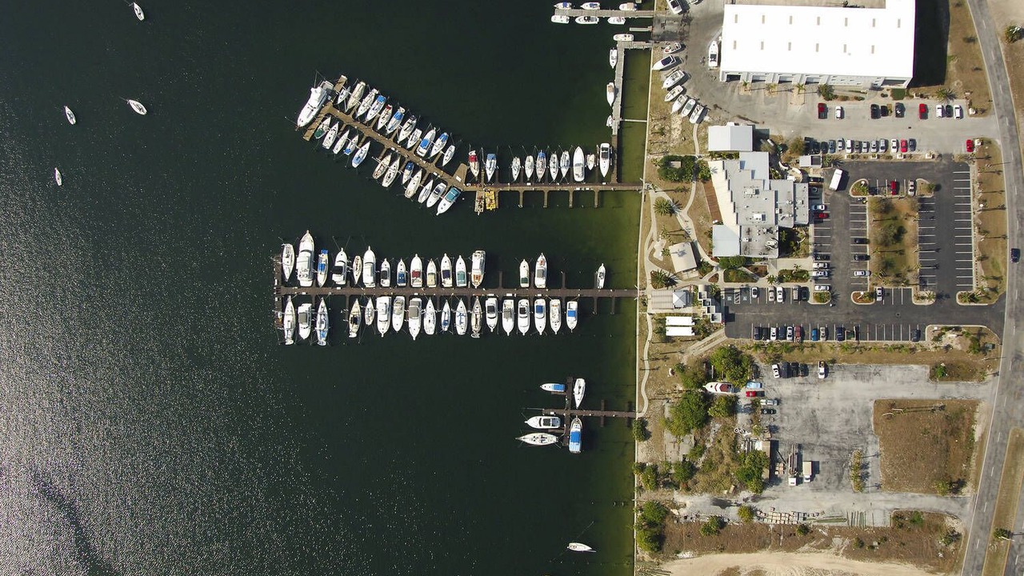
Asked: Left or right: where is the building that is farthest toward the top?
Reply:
right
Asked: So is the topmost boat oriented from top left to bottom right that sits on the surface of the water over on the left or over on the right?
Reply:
left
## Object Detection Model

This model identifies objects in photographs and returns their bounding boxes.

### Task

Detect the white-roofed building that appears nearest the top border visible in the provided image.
[722,0,916,95]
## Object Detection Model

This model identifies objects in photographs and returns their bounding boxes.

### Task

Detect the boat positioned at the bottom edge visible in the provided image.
[565,541,592,555]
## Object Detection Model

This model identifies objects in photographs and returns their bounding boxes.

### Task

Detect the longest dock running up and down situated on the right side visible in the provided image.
[611,39,652,183]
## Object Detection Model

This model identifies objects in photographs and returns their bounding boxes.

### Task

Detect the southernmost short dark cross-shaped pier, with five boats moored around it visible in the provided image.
[543,376,636,447]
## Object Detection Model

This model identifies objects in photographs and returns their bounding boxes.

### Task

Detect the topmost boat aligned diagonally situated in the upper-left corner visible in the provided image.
[124,0,146,22]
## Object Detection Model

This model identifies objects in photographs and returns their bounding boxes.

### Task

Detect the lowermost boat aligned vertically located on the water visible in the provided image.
[569,417,582,454]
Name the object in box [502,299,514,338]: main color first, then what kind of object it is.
white boat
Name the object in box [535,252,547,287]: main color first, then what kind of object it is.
white boat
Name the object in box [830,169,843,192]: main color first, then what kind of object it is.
white vehicle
